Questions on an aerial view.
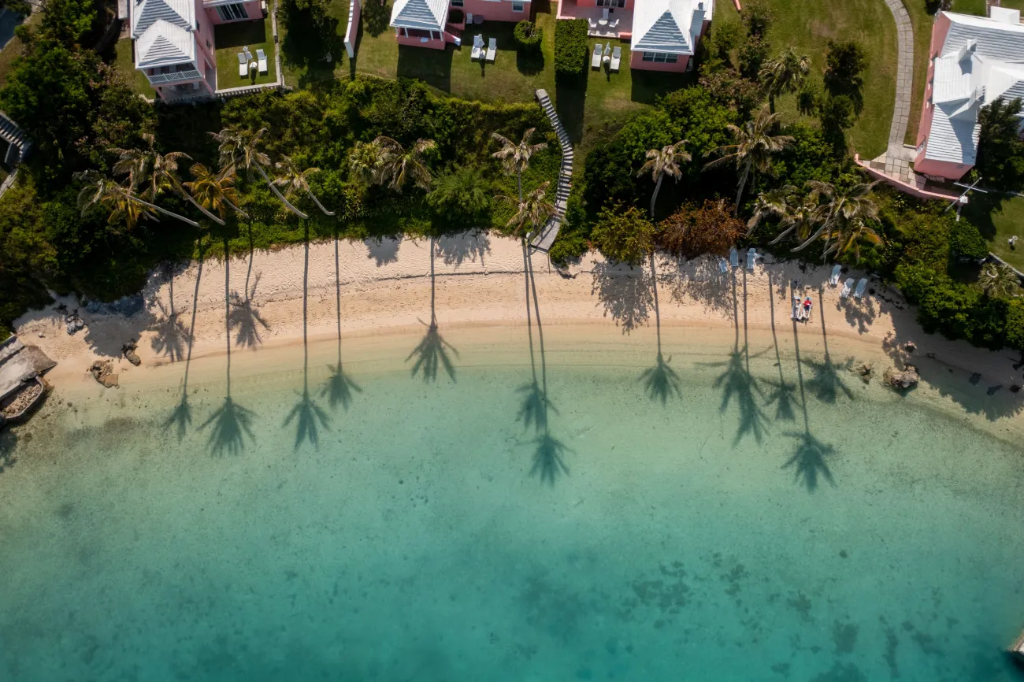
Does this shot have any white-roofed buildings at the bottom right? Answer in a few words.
No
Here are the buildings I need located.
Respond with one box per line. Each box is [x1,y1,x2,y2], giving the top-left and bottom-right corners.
[130,0,266,100]
[556,0,712,72]
[389,0,532,49]
[914,2,1024,183]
